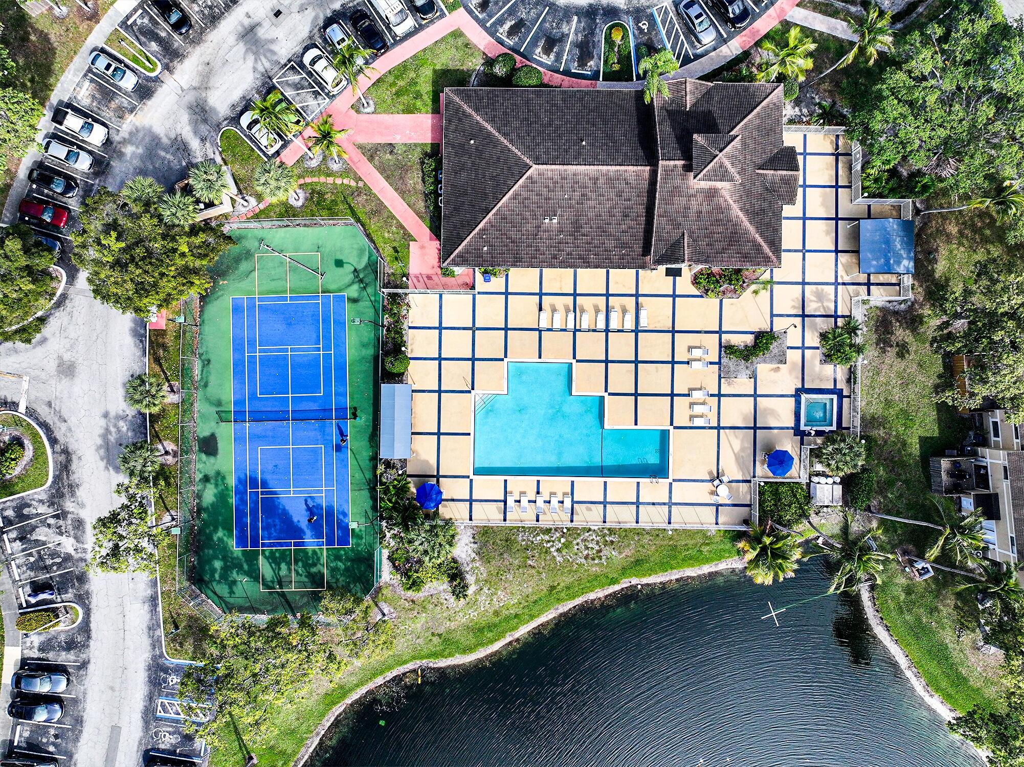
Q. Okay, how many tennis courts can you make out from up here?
1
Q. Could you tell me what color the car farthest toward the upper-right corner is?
black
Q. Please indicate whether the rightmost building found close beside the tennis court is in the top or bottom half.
top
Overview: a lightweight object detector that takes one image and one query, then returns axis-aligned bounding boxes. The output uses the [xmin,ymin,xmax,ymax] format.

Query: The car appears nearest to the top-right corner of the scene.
[708,0,747,36]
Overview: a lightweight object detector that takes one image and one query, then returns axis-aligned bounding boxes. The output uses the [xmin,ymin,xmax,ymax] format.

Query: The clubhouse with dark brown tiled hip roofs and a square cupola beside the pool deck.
[441,74,806,276]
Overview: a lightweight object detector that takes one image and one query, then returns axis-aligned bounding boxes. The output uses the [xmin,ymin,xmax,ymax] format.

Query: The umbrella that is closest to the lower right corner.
[765,448,796,478]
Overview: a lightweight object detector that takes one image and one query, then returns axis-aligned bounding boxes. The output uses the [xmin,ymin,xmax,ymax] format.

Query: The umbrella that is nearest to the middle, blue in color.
[415,482,443,510]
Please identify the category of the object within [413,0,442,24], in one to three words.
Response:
car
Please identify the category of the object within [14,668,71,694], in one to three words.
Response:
car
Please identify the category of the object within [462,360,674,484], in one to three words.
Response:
swimming pool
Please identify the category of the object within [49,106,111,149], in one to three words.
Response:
vehicle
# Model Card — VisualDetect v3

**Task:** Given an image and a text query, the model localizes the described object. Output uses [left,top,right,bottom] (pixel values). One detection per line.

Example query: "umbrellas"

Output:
[765,448,796,478]
[415,482,443,510]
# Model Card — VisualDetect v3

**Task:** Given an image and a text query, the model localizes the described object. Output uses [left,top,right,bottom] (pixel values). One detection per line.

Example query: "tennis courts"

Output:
[196,225,383,615]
